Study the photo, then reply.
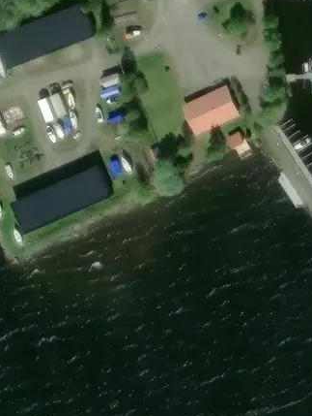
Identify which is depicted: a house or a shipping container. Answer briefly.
house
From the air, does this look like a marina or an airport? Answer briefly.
marina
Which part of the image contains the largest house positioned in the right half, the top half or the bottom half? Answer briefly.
top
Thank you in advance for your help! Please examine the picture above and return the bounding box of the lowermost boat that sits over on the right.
[295,136,312,149]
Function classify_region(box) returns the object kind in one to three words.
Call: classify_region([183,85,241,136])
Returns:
house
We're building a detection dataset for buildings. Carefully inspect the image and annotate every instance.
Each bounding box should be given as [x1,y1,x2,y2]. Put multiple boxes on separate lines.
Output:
[0,3,99,68]
[227,131,247,150]
[10,164,119,234]
[183,85,241,136]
